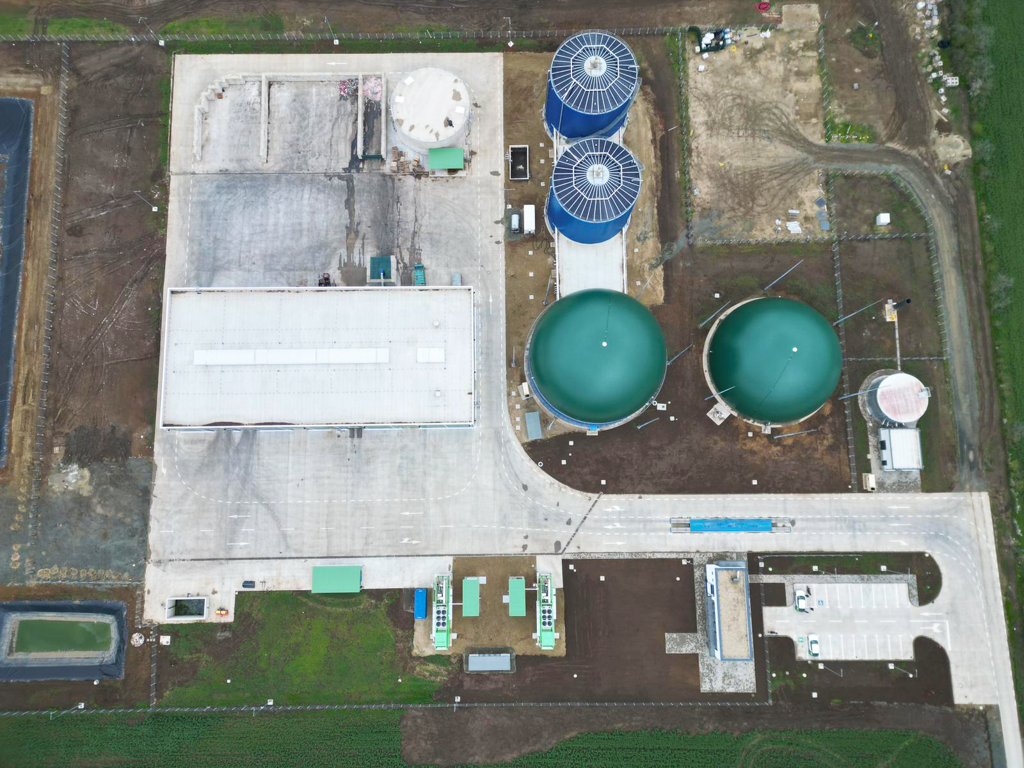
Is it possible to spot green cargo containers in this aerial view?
Yes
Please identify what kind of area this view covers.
industrial area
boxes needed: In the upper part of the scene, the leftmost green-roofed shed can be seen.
[430,141,470,178]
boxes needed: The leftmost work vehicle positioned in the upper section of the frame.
[319,273,333,288]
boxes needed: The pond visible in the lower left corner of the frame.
[0,600,127,680]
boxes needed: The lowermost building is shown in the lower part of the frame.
[468,651,511,671]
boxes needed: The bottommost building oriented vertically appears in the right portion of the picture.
[701,559,753,661]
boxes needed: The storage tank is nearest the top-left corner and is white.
[390,68,475,156]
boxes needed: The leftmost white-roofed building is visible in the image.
[160,286,483,435]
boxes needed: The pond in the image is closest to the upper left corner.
[0,98,34,466]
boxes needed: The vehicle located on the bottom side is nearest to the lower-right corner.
[807,635,819,657]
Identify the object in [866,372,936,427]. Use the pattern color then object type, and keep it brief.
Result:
white water tank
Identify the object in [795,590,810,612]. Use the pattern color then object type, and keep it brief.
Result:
white car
